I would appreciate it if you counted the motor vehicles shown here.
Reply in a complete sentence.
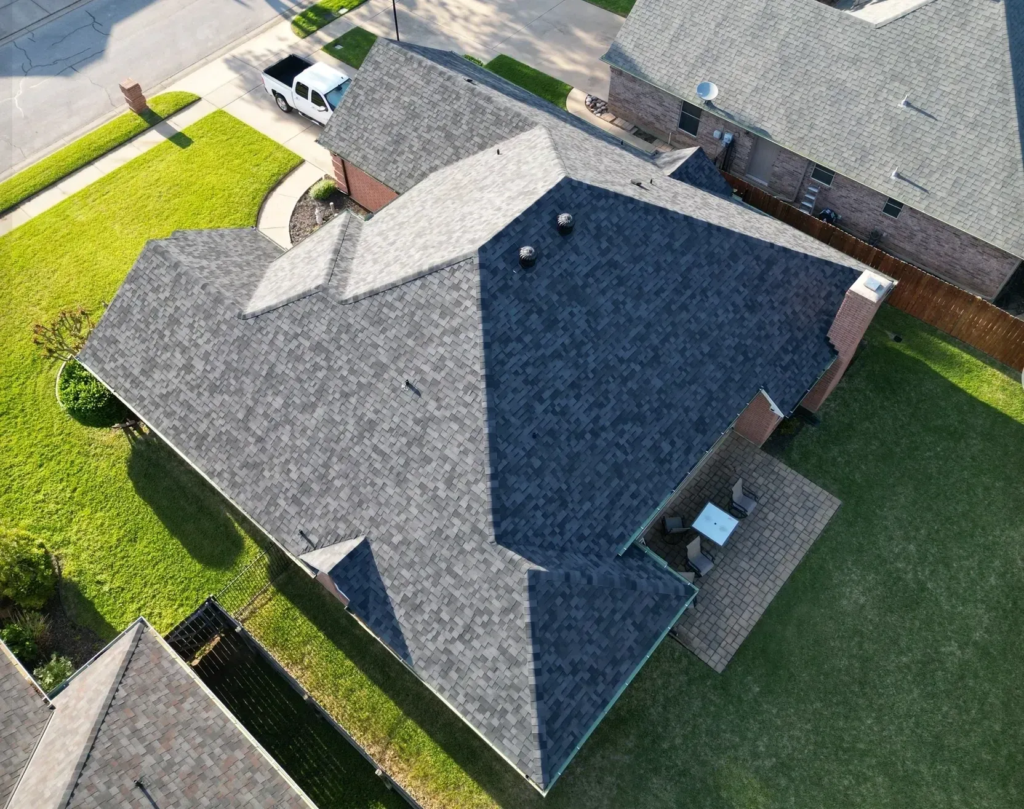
Altogether the scene contains 1 motor vehicle.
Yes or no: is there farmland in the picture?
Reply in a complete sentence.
No, there is no farmland in the image.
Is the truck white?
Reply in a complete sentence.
Yes, the truck is indeed white.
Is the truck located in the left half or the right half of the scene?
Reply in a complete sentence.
You can find the truck on the left side of the picture.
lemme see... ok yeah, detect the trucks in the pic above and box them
[260,54,350,132]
